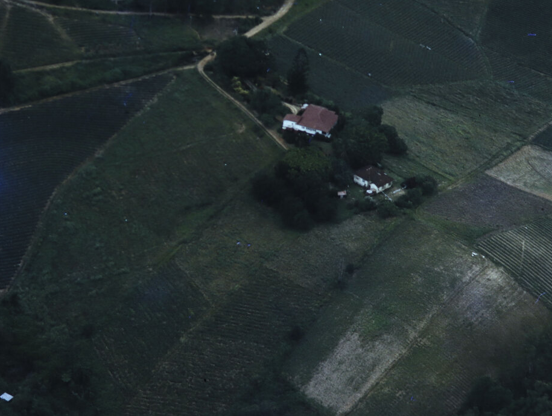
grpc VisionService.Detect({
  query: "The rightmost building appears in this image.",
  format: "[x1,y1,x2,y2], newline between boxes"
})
[354,167,395,196]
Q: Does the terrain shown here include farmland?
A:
Yes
